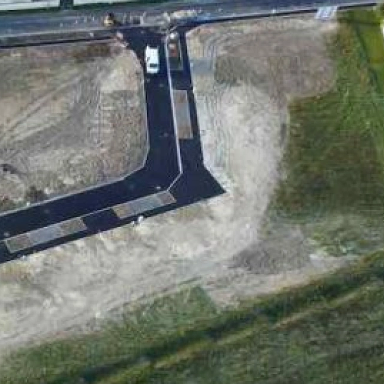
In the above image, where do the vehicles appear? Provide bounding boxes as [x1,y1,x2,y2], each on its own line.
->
[104,7,119,27]
[146,47,162,72]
